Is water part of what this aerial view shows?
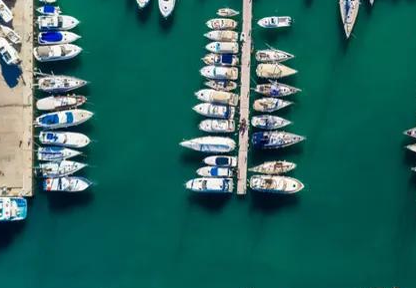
Yes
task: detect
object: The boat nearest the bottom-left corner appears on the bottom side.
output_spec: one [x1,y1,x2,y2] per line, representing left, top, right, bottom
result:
[0,197,30,221]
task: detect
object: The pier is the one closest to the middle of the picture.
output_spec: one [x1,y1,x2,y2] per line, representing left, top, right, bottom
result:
[234,0,253,193]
